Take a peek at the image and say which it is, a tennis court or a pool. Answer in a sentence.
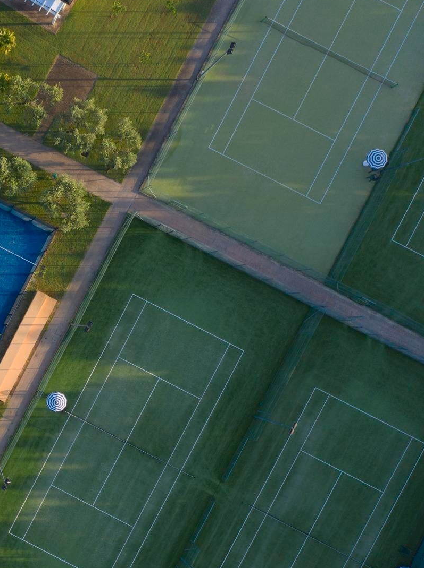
Of the two, only a tennis court appears.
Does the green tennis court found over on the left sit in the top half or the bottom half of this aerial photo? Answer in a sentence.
The green tennis court found over on the left sits in the bottom half of the picture.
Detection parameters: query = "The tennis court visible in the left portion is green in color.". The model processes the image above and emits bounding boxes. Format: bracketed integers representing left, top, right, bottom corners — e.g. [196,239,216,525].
[0,215,307,568]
